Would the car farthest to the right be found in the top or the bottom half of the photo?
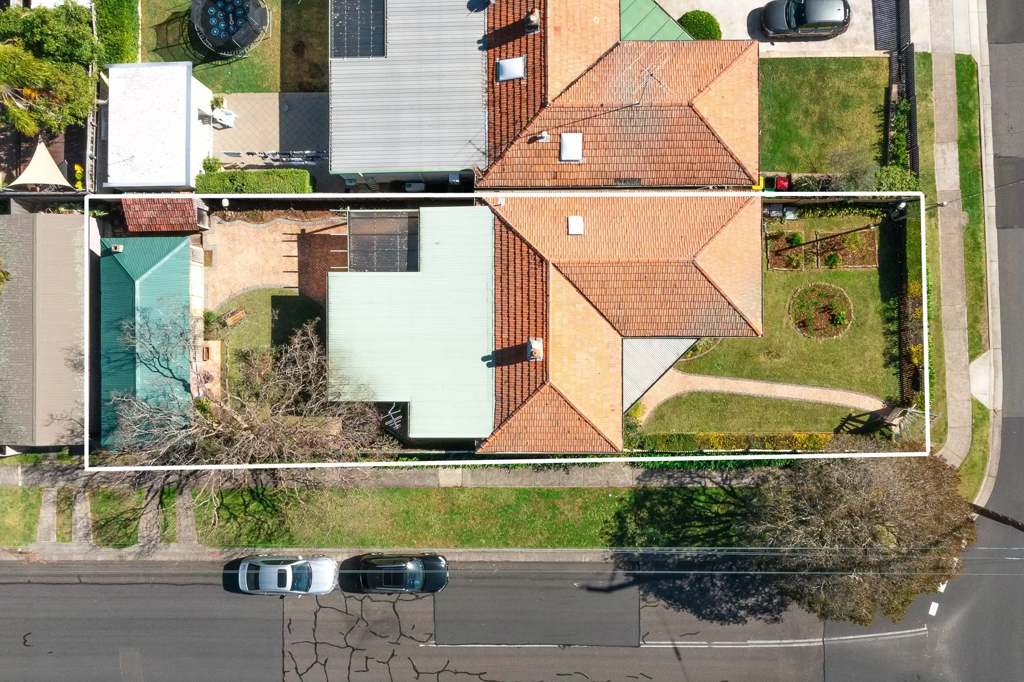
top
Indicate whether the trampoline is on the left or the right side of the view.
left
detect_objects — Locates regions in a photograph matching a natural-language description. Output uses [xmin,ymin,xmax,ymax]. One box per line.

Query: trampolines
[178,0,281,71]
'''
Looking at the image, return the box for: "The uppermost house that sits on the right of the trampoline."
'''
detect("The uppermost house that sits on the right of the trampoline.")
[328,0,761,189]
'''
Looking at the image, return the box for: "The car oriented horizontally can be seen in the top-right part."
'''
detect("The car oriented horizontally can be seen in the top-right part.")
[760,0,854,41]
